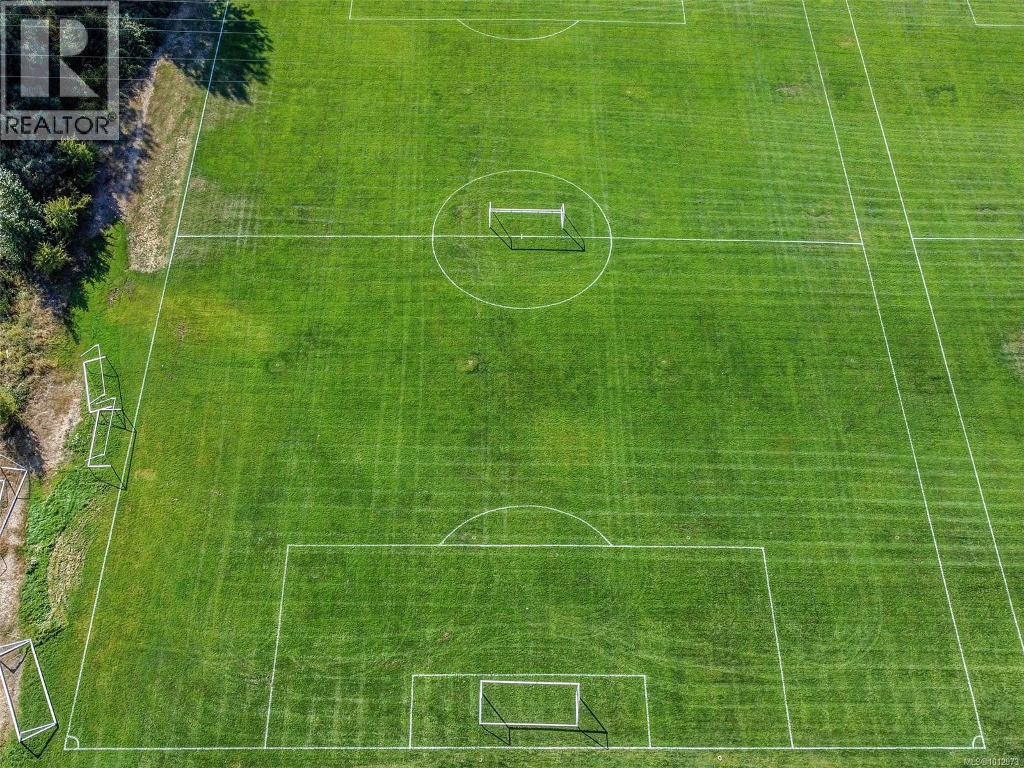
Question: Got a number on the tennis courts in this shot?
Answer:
0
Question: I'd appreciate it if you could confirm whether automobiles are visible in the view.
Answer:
No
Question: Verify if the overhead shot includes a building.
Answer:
No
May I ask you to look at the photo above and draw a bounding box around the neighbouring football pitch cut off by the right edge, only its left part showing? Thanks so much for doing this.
[846,0,1024,631]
